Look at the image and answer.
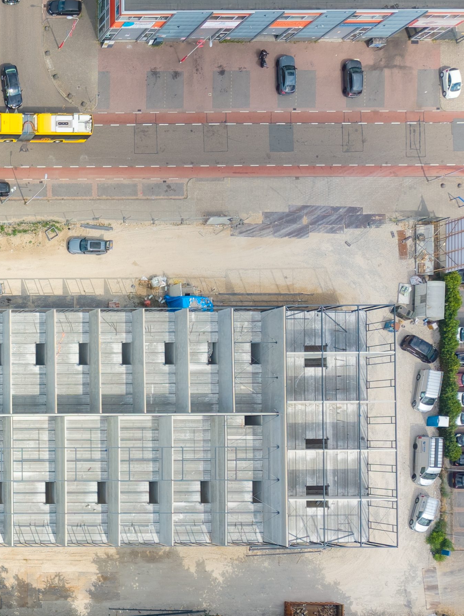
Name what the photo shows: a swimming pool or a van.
van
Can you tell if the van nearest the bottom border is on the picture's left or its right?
right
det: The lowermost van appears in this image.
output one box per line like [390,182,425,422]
[408,495,442,532]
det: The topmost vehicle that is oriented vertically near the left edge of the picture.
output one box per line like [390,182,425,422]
[0,65,23,109]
